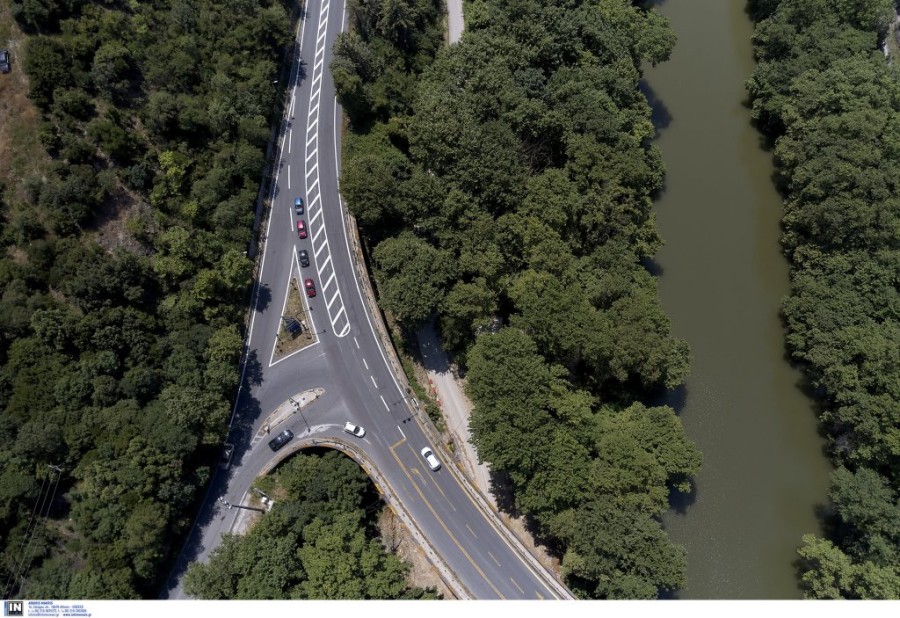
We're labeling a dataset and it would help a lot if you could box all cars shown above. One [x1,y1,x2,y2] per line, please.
[297,220,308,239]
[0,51,11,71]
[268,429,294,451]
[299,249,311,268]
[304,278,317,299]
[343,421,367,439]
[421,446,441,471]
[294,197,304,215]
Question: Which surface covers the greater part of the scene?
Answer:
trees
